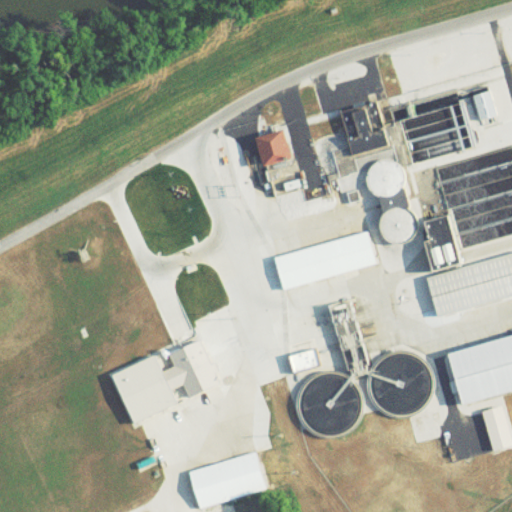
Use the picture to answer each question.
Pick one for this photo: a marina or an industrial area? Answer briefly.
industrial area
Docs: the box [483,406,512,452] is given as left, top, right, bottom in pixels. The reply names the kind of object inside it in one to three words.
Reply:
shed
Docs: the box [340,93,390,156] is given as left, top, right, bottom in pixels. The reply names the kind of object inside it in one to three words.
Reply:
building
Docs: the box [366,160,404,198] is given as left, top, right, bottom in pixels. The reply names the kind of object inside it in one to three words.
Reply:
storage tank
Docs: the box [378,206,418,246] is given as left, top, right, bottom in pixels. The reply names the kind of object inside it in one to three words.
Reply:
storage tank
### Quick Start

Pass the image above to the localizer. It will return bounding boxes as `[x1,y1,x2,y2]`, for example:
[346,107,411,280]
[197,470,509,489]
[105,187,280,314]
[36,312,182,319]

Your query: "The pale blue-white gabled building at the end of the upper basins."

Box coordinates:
[474,91,498,120]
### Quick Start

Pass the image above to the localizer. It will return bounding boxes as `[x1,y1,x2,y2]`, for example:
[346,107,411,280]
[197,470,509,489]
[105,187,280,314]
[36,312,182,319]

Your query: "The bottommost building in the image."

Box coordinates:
[190,452,268,509]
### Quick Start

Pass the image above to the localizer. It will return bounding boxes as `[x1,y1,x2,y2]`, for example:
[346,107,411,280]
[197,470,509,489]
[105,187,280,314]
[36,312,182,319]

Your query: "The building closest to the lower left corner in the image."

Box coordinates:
[111,354,179,424]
